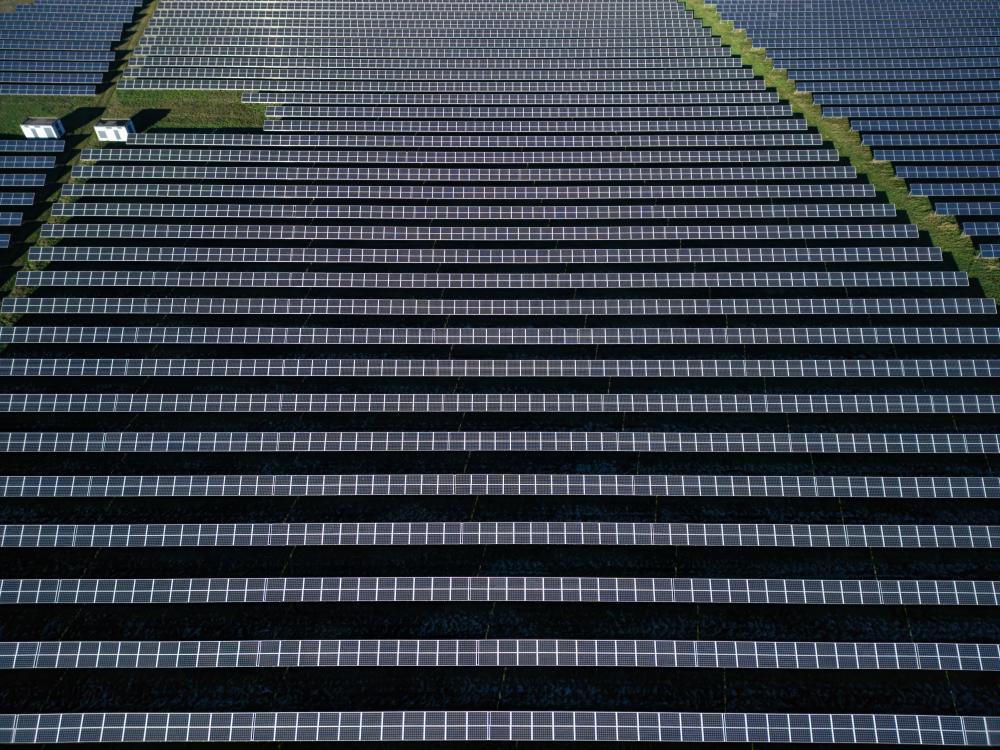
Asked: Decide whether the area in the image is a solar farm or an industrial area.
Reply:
solar farm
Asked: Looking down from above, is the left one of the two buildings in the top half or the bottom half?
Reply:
top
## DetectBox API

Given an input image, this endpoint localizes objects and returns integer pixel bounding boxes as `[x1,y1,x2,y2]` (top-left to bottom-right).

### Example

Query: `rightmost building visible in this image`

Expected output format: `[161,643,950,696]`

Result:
[95,118,138,142]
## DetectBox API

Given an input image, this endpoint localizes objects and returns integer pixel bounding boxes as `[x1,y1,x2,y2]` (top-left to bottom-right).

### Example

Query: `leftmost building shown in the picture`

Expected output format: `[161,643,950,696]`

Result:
[21,117,67,141]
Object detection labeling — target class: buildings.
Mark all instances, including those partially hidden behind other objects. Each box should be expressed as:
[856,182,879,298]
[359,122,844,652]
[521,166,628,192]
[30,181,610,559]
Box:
[95,118,138,142]
[21,117,67,141]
